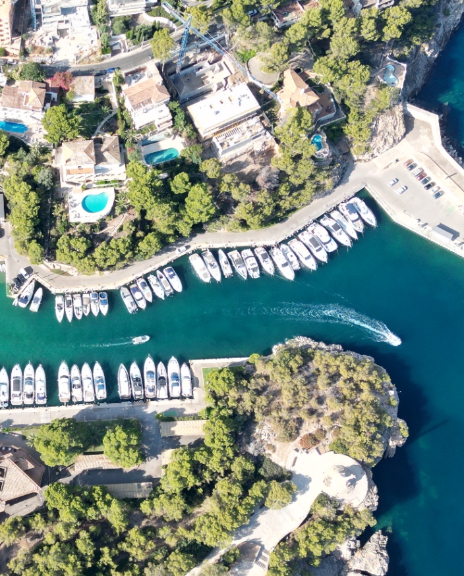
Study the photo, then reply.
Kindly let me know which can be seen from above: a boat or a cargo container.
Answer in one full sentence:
Looking from above, you can make out a boat.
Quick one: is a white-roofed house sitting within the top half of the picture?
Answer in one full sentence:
Yes, a white-roofed house shows up within the top half of the picture.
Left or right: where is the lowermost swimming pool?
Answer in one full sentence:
You can find the lowermost swimming pool on the left side of the picture.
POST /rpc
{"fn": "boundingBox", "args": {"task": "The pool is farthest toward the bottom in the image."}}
[81,191,109,214]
